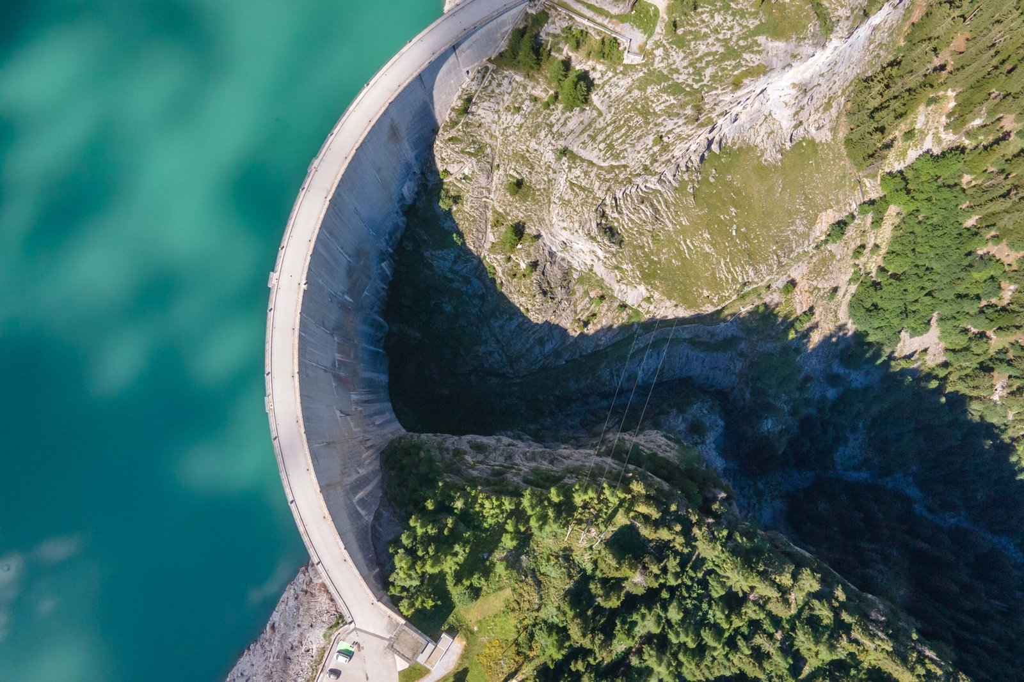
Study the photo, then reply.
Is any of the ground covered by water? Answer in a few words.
Yes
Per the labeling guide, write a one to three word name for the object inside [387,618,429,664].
building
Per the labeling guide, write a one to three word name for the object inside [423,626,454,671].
building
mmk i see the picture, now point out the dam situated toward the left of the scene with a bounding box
[262,0,532,623]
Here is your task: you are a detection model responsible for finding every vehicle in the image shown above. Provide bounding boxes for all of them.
[325,670,340,682]
[333,653,350,667]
